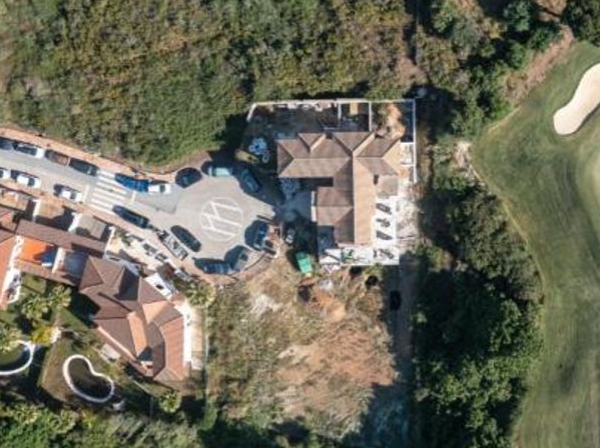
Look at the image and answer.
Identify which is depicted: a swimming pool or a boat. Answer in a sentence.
Looking from above, you can make out a swimming pool.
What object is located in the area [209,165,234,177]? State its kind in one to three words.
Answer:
vehicle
